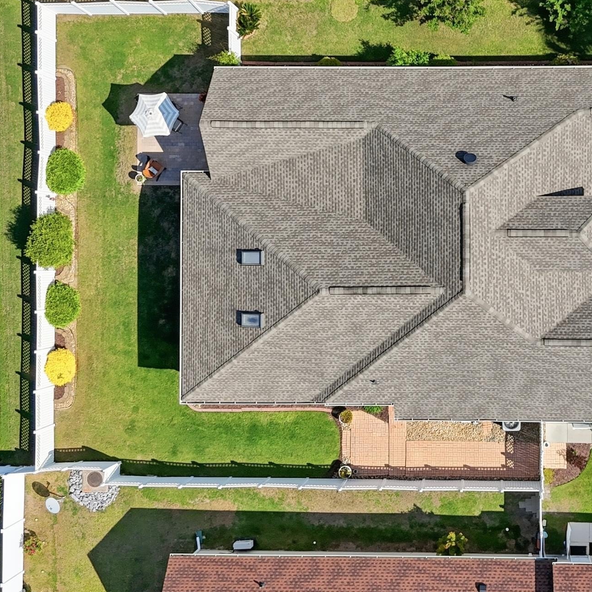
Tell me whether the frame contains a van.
No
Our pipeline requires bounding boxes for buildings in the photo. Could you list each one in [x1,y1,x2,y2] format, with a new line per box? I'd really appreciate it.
[162,537,592,592]
[178,64,592,426]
